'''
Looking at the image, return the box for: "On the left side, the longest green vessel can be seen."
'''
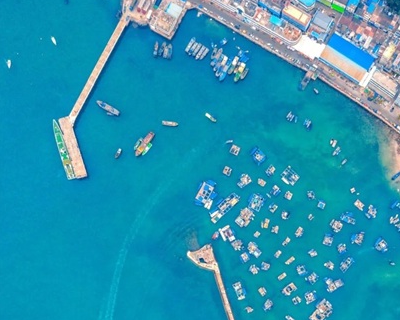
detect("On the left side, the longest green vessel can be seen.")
[54,118,72,179]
